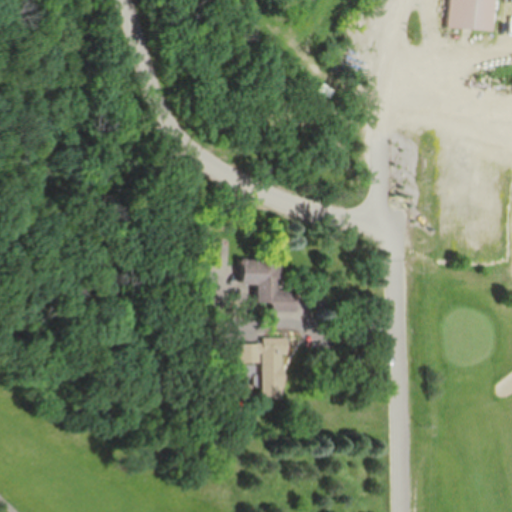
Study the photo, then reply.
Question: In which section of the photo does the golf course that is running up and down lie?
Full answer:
Look in the bottom right portion of the view to spot the golf course that is running up and down.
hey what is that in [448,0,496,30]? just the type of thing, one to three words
barn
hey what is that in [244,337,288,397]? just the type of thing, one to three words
house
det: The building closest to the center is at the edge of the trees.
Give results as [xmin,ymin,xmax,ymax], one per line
[244,258,299,313]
